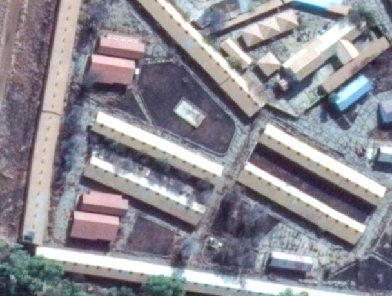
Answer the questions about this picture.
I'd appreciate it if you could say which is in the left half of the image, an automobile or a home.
home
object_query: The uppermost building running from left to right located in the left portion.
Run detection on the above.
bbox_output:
[98,32,145,58]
